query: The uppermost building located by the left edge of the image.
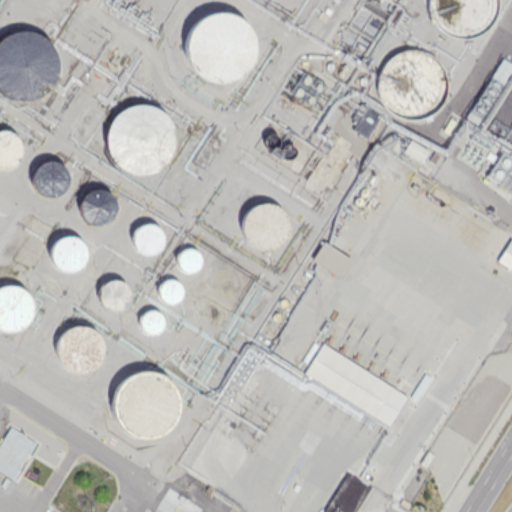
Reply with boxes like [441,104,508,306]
[0,427,38,484]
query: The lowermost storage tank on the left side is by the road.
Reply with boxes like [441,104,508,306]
[111,370,182,441]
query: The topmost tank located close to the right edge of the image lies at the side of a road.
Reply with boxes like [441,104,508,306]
[424,0,500,40]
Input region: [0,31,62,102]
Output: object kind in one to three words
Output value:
storage tank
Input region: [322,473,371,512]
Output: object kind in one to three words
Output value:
shed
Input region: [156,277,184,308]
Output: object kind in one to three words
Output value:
storage tank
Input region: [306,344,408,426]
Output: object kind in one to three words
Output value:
building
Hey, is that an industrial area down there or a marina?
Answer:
industrial area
